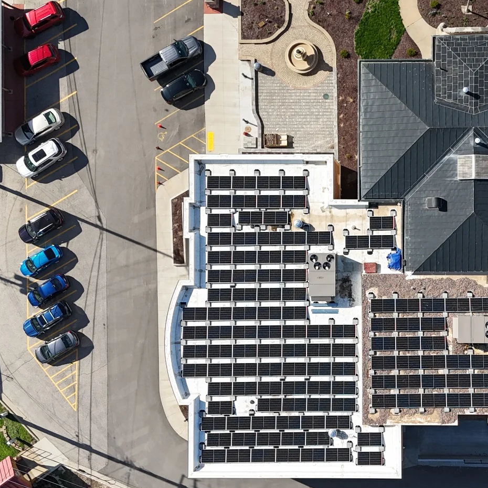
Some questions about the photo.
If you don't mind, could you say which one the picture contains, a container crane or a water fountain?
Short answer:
water fountain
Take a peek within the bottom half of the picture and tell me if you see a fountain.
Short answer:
No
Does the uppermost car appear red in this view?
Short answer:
Yes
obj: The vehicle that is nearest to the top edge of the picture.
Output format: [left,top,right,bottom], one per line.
[16,0,68,40]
